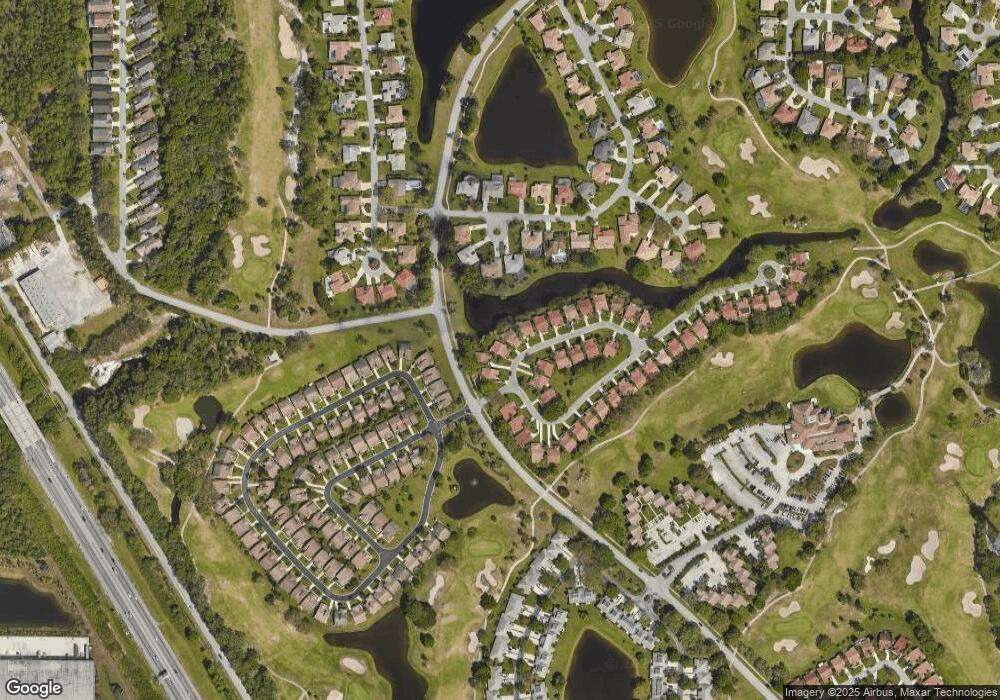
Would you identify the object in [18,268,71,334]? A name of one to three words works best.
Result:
building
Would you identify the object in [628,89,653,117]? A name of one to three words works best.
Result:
house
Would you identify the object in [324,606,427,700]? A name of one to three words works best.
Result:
pond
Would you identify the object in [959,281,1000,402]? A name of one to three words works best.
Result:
pond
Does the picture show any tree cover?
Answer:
Yes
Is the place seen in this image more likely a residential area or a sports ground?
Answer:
residential area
